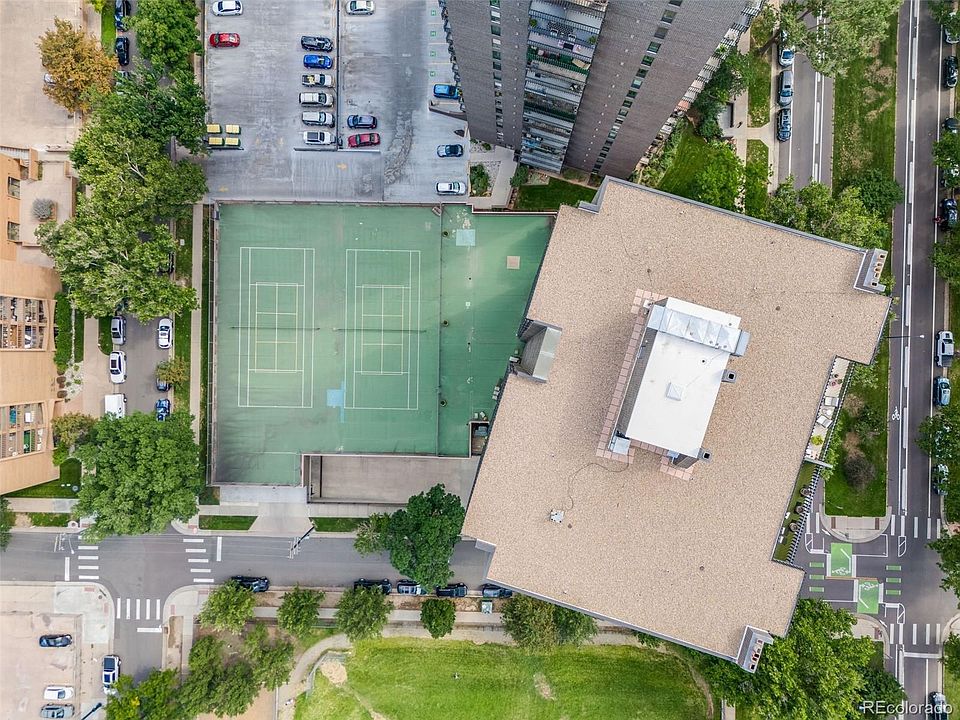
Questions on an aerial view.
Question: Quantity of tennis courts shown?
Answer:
two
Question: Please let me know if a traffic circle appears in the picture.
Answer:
No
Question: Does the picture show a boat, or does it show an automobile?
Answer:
automobile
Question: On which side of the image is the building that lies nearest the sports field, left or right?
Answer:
right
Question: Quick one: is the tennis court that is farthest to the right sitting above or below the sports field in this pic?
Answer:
above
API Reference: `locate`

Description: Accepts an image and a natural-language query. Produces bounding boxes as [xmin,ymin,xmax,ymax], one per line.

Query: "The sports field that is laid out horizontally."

[291,637,700,720]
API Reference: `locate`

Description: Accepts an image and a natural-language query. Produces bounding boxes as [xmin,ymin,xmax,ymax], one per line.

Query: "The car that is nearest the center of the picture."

[435,179,467,195]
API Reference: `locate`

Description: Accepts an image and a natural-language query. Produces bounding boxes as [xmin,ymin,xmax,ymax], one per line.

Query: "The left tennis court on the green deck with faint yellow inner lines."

[232,245,321,411]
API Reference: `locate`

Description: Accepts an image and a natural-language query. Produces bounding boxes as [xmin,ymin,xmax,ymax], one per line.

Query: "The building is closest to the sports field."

[458,174,892,671]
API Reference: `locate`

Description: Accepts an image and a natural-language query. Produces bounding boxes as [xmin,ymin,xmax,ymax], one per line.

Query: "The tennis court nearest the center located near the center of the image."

[335,247,426,412]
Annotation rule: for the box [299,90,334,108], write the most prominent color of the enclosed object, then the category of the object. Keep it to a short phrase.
white car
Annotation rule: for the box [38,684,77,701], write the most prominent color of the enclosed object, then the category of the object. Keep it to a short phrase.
white vehicle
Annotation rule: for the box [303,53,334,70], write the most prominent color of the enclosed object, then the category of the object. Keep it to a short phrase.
blue car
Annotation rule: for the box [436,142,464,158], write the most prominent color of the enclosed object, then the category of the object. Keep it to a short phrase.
blue car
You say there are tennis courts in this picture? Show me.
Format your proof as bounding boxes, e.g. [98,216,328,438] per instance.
[335,247,426,412]
[232,245,321,411]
